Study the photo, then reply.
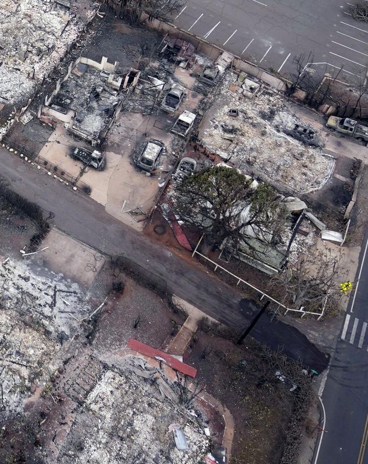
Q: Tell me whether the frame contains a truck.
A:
Yes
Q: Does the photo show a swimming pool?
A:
No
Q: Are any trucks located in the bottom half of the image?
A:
No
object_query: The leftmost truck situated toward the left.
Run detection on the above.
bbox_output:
[62,140,115,174]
